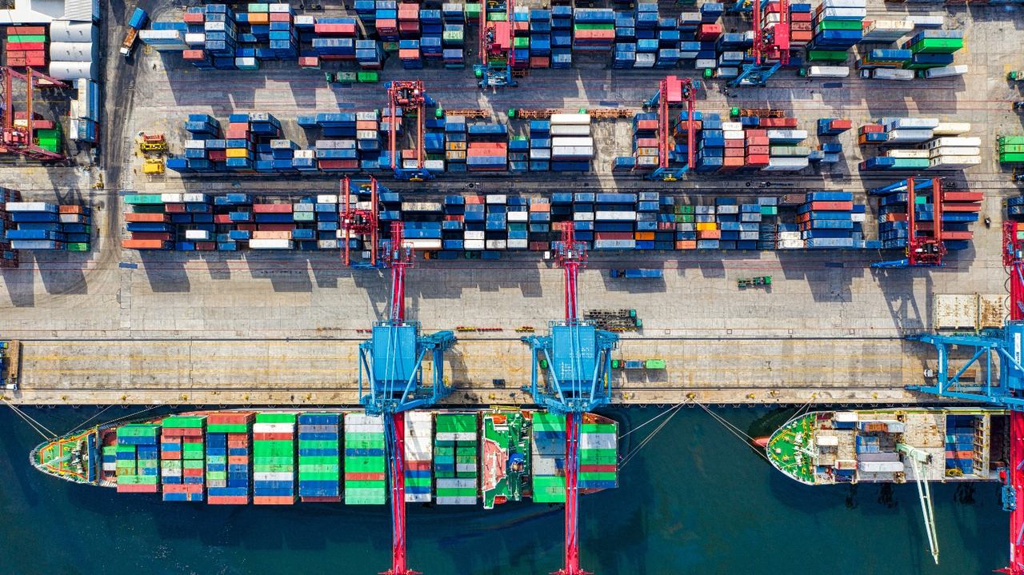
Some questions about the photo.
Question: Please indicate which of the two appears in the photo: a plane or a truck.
truck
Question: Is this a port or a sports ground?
port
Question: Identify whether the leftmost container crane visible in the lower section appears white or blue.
blue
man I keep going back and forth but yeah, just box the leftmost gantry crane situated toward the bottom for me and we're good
[359,224,457,575]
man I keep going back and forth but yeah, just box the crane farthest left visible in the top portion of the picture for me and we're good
[2,62,76,163]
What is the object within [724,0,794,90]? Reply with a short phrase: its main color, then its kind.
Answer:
red container crane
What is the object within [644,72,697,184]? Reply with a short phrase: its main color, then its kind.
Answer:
red container crane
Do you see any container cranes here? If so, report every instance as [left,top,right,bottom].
[724,0,794,90]
[520,223,619,575]
[904,223,1024,575]
[359,224,457,575]
[341,174,396,272]
[864,173,944,272]
[478,0,517,90]
[387,75,437,185]
[644,72,697,184]
[2,62,76,163]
